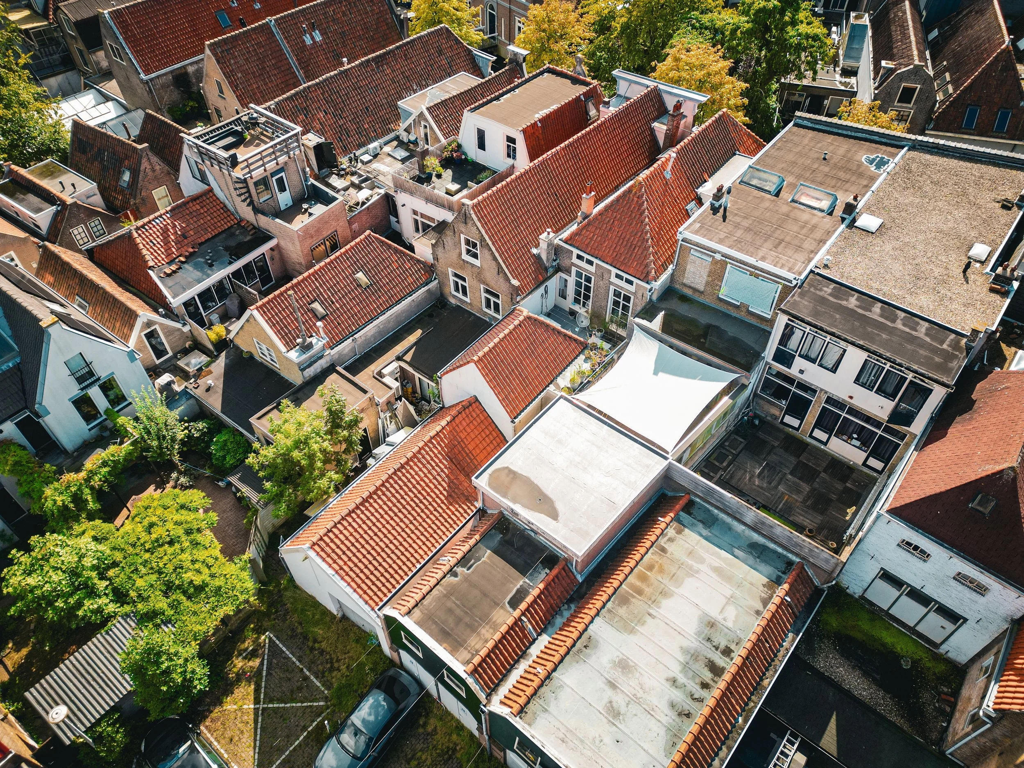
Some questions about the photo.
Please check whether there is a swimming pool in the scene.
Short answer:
No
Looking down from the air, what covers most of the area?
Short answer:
buildings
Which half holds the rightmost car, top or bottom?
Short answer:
bottom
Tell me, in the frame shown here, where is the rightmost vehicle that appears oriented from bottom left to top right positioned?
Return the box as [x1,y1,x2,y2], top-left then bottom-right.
[317,672,425,768]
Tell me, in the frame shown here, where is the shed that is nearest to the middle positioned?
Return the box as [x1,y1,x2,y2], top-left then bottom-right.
[432,307,583,443]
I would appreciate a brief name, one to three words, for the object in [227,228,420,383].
house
